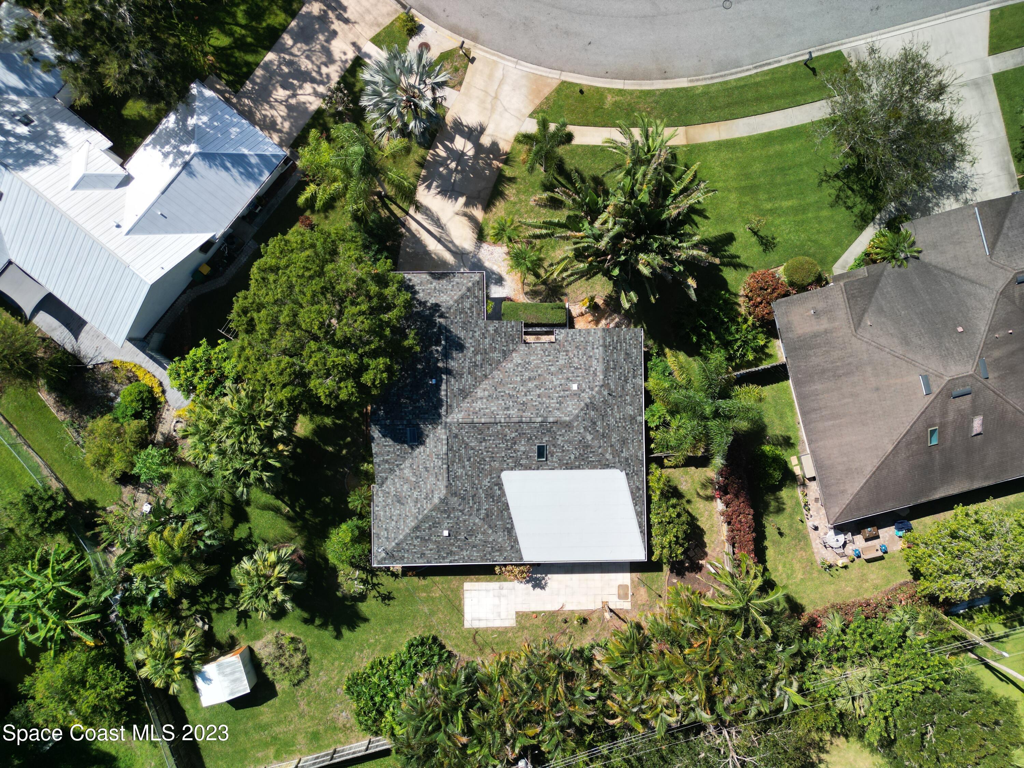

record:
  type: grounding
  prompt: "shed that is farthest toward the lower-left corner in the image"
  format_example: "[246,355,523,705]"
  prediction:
[193,645,259,706]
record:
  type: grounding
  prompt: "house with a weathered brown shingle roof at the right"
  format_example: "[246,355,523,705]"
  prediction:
[770,188,1024,527]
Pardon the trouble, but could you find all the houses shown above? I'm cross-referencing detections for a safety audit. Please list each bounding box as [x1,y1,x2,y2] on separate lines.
[770,188,1024,527]
[370,270,649,567]
[0,2,293,350]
